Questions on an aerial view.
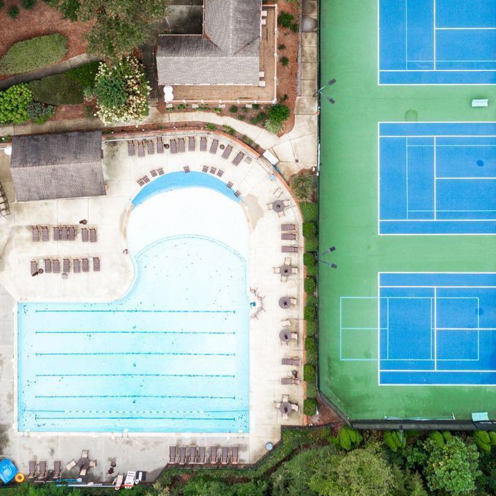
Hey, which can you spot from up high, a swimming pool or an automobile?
swimming pool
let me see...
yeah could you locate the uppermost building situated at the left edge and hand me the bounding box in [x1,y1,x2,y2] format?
[11,131,107,203]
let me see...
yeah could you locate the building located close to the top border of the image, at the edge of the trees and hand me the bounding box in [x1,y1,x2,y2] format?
[156,0,276,104]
